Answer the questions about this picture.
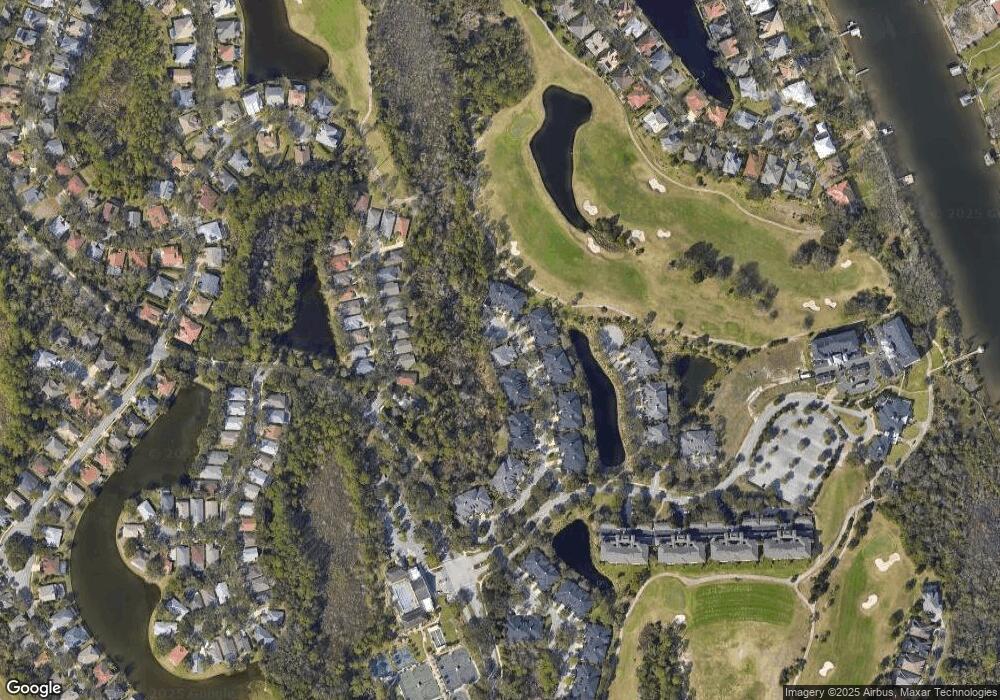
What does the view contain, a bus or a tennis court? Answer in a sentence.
There is a tennis court in the scene.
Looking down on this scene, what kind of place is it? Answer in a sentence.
It's a residential area.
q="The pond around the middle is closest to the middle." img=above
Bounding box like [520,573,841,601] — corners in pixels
[570,330,624,467]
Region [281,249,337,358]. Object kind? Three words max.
pond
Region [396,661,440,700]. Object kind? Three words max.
tennis court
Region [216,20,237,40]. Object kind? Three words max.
house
